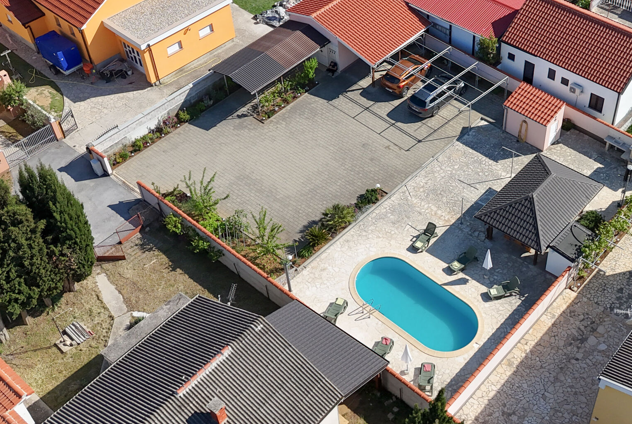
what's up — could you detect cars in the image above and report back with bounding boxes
[404,71,470,119]
[379,54,439,97]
